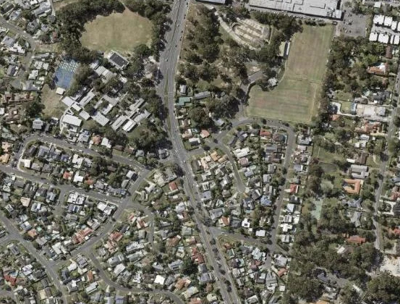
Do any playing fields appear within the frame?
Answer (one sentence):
Yes, there is a playing field in the image.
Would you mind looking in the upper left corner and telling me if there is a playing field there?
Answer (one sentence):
No, no playing field is visible in the upper left corner.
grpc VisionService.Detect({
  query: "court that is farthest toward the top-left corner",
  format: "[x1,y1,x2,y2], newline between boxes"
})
[54,60,78,89]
